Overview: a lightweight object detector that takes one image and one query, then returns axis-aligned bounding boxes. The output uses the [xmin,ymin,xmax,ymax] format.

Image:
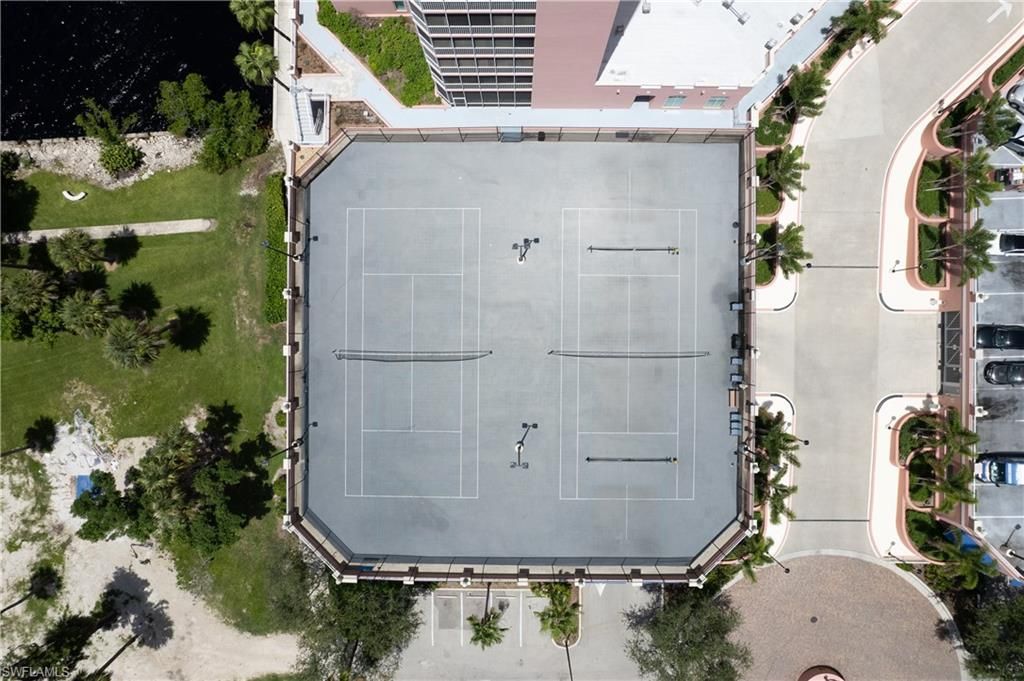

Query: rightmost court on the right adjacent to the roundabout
[520,141,739,564]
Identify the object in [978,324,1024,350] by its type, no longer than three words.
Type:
car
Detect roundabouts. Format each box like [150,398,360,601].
[695,548,974,681]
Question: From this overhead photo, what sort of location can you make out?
sports ground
